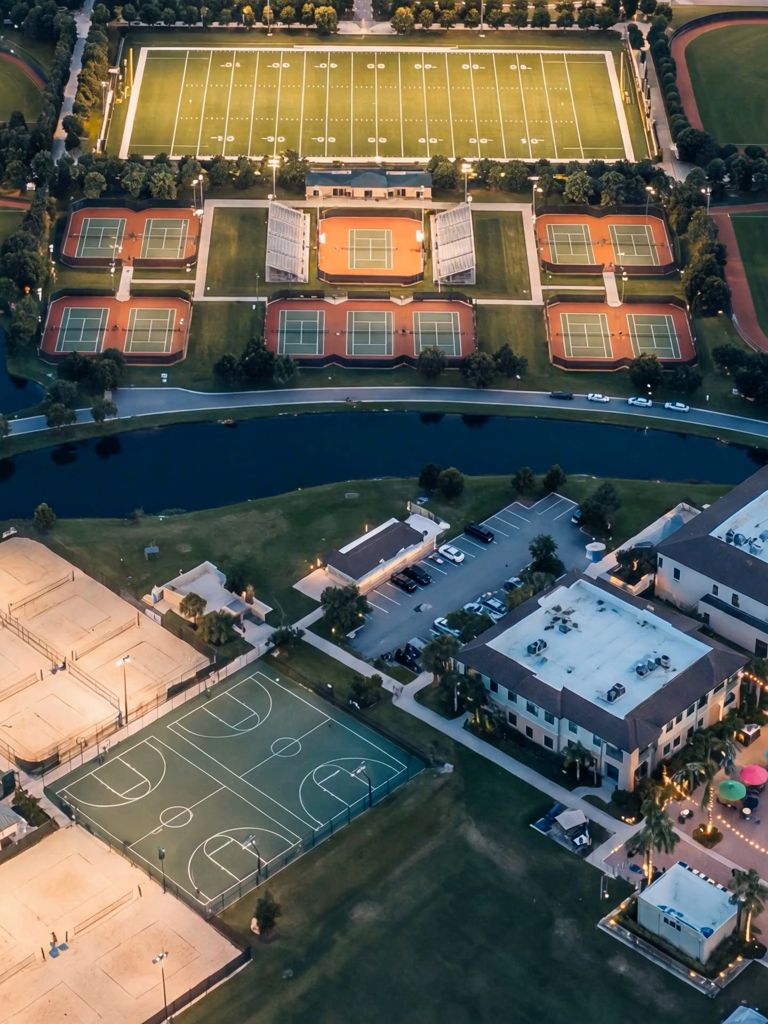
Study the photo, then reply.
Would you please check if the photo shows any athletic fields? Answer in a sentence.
Yes, an athletic field is visible in the scene.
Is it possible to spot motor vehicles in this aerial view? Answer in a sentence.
Yes, the frame does contain a motor vehicle.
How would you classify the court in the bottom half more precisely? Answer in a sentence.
The court in the bottom half is a basketball court.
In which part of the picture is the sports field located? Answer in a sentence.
The sports field appears toward the top of the photo.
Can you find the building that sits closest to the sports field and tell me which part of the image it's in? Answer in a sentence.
Look in the top portion of the view to spot the building that sits closest to the sports field.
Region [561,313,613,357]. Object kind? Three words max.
tennis court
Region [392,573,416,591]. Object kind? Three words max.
car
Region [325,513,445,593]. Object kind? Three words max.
building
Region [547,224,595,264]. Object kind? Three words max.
tennis court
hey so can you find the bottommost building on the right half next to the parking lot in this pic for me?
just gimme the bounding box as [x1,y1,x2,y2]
[454,570,768,786]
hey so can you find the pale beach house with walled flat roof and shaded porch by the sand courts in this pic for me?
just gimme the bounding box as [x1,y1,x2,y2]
[143,563,273,632]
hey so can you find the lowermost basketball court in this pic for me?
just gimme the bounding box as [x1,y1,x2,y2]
[45,663,426,916]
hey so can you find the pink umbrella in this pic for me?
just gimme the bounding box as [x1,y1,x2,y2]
[740,768,767,789]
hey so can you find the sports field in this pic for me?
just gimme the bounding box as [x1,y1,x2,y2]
[128,50,625,158]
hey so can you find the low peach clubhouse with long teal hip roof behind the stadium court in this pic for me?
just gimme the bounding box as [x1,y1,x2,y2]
[304,165,434,204]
